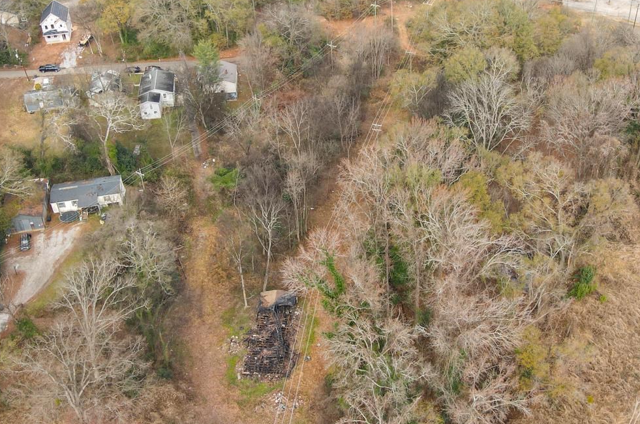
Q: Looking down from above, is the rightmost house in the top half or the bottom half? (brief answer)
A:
bottom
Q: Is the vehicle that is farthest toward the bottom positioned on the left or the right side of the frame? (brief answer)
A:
left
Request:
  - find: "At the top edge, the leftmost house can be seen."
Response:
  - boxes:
[0,3,26,28]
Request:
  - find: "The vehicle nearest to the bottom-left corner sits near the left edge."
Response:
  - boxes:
[12,229,36,250]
